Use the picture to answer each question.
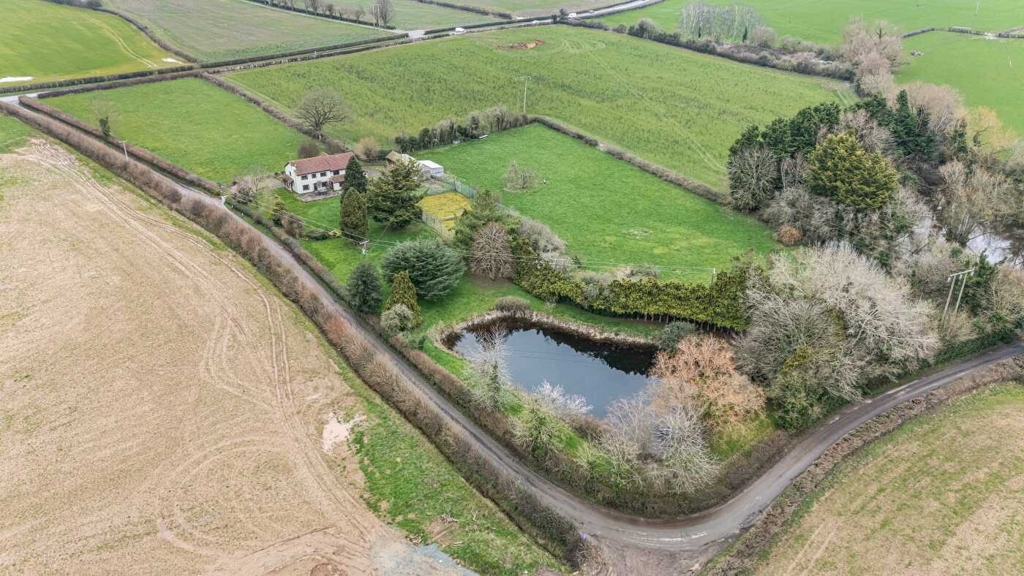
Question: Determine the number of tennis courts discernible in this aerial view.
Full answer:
Just 1 tennis court appears in this view.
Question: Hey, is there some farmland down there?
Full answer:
Yes, farmland shows up in the scene.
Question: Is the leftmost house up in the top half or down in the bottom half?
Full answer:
You can find the leftmost house in the top half.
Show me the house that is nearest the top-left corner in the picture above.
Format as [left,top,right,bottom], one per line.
[282,148,351,193]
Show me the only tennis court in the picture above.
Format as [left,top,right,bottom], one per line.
[418,190,475,238]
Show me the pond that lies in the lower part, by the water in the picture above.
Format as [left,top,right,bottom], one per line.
[450,324,670,425]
